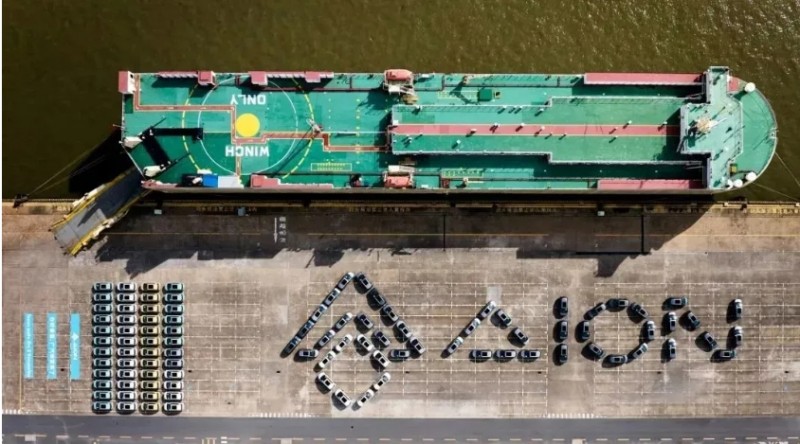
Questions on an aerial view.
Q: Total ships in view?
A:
1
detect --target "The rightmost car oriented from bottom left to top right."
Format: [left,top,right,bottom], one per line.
[630,342,648,361]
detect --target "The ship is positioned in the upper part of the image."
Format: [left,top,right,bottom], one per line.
[51,68,779,255]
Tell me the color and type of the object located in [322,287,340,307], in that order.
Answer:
gray car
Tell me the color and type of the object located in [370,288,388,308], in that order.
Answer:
black car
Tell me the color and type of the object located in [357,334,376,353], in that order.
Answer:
white car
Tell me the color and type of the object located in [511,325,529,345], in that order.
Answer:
gray car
